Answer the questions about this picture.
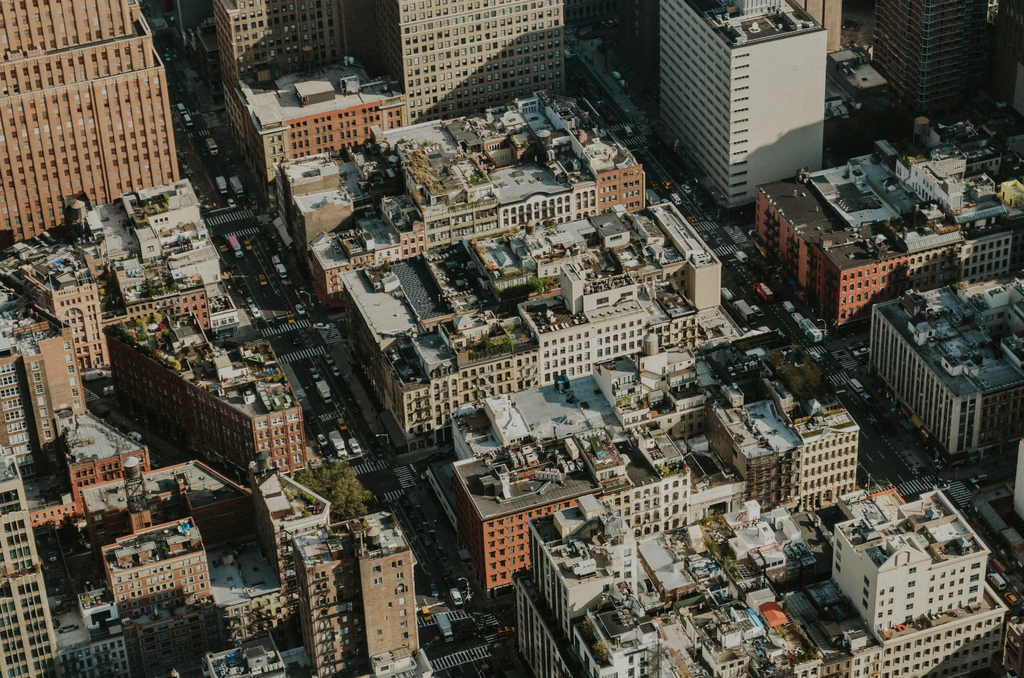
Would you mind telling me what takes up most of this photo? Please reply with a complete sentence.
For the most part, this view shows buildings.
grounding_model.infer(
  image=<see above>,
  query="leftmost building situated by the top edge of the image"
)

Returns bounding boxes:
[0,0,176,244]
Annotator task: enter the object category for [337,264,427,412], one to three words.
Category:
building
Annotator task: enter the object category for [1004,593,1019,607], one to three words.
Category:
car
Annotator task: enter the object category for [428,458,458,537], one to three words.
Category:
building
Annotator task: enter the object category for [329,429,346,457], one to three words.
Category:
vehicle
